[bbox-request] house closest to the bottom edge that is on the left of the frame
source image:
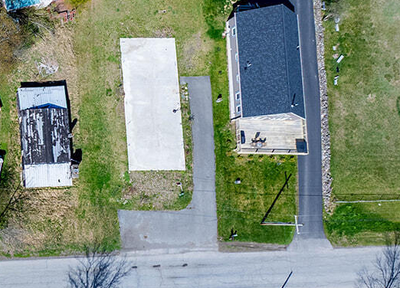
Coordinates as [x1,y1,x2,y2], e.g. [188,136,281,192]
[16,86,80,186]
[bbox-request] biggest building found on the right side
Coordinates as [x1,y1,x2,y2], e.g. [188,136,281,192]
[222,8,310,153]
